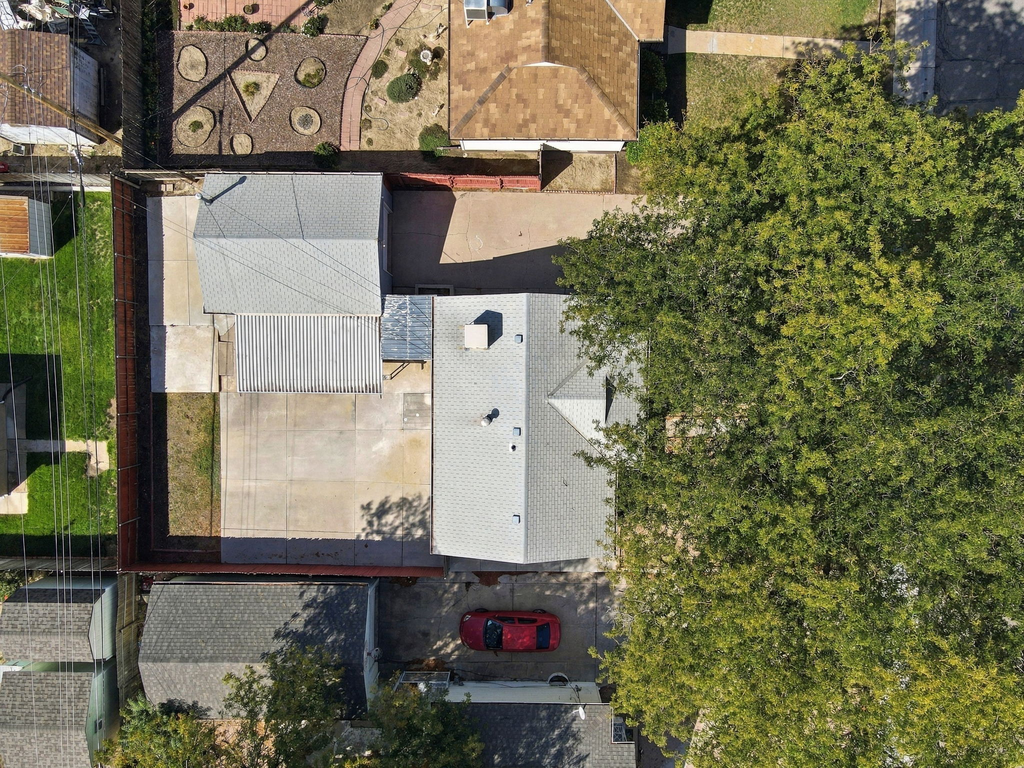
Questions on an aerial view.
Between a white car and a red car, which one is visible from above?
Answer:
red car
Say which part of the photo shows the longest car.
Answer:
bottom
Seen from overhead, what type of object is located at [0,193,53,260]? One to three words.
shed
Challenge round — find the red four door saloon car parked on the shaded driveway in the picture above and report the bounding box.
[459,608,560,658]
